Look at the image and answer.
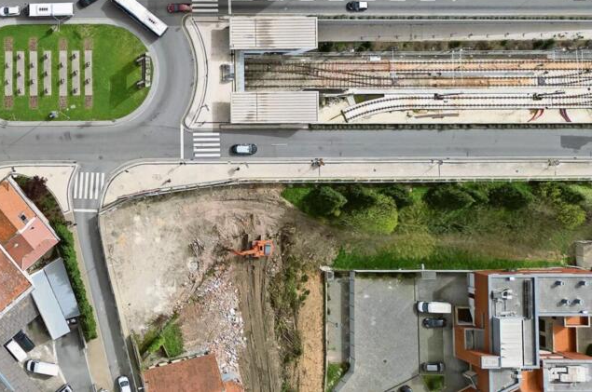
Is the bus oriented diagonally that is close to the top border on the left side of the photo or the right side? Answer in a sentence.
The bus oriented diagonally that is close to the top border is on the left side of the image.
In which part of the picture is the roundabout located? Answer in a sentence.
The roundabout appears toward the top left of the photo.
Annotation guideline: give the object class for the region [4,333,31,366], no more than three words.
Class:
truck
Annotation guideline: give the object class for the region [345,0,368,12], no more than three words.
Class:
vehicle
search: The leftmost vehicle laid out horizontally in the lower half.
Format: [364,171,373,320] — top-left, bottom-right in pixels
[25,359,59,378]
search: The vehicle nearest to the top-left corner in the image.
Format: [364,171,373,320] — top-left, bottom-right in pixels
[0,4,20,16]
